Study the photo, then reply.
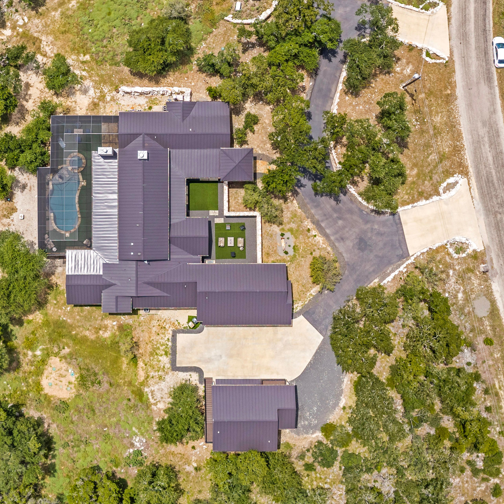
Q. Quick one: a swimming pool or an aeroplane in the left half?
swimming pool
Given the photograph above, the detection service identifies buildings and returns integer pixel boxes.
[205,376,296,452]
[65,101,292,325]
